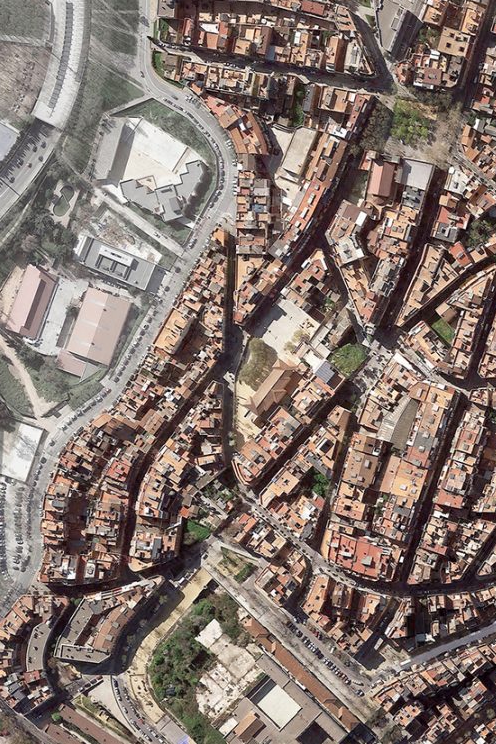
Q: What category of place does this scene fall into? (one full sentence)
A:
What you see here is a residential area.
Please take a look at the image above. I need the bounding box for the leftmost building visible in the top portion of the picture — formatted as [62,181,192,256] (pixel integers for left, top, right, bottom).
[0,122,18,161]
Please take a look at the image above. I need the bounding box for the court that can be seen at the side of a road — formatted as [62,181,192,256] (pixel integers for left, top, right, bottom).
[1,423,44,481]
